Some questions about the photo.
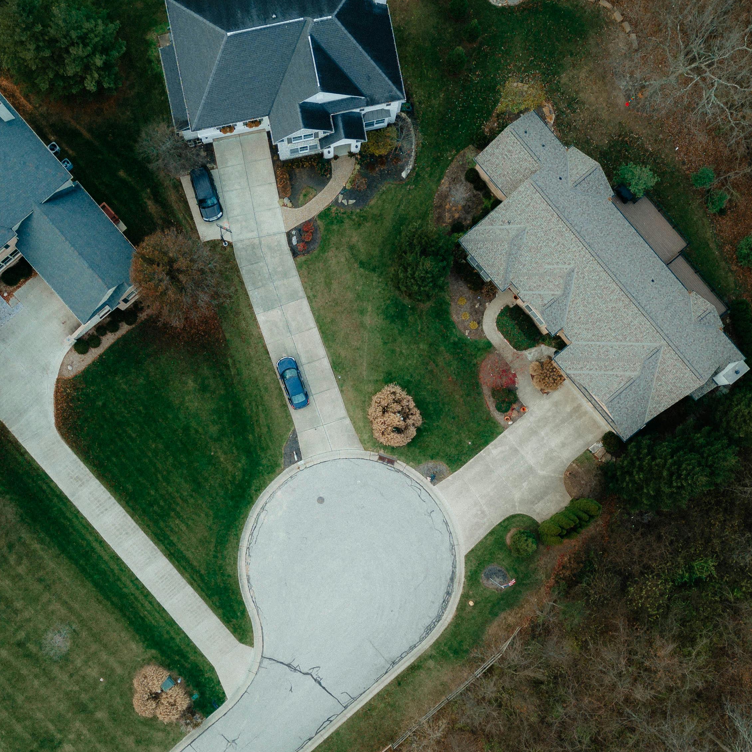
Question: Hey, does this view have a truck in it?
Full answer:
No, there isn't any truck down there.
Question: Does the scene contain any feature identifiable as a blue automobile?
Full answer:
Yes, I can see a blue automobile in this picture.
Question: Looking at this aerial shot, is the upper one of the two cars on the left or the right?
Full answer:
The upper one of the two cars is on the left side of the image.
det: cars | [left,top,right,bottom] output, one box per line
[278,356,310,411]
[188,165,222,223]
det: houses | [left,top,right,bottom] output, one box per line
[459,110,750,444]
[0,91,152,346]
[159,0,406,158]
